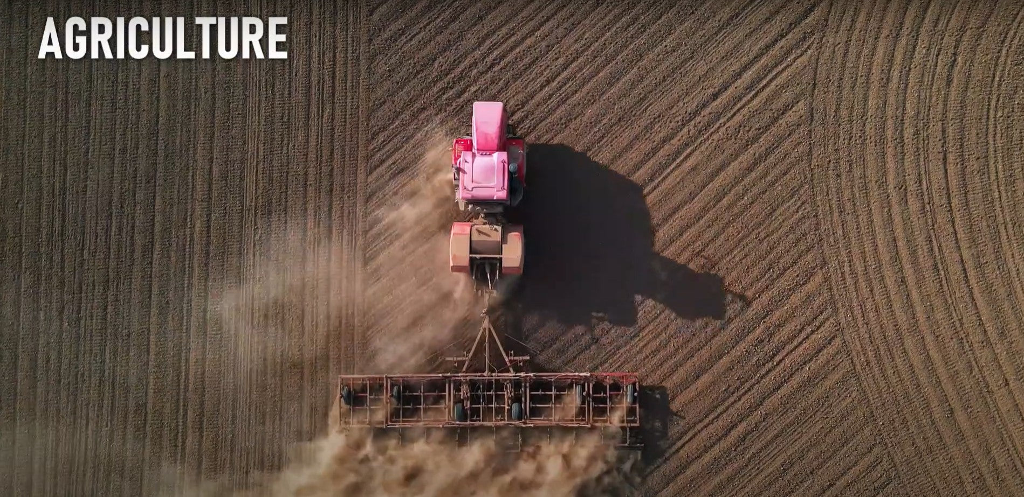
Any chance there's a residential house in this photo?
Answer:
No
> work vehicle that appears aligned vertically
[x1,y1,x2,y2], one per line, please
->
[448,102,526,309]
